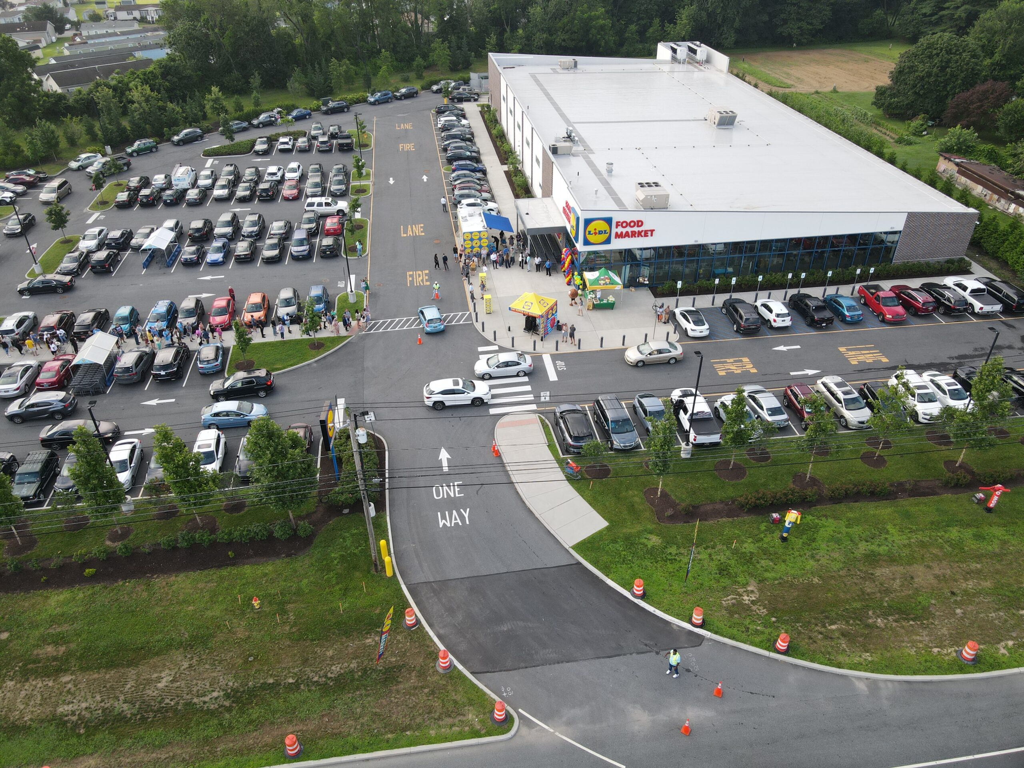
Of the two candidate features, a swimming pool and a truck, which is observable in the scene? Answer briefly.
truck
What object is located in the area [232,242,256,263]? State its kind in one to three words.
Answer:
car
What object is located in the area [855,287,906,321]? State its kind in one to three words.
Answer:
truck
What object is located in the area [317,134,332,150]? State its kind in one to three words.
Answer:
car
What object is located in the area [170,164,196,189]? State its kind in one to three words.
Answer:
vehicle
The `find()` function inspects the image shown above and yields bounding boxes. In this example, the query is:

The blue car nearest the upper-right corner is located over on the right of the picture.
[823,297,866,325]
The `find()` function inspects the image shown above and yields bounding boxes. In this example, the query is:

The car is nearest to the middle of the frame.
[473,351,533,380]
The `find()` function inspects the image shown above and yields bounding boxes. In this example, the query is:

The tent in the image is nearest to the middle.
[509,291,557,337]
